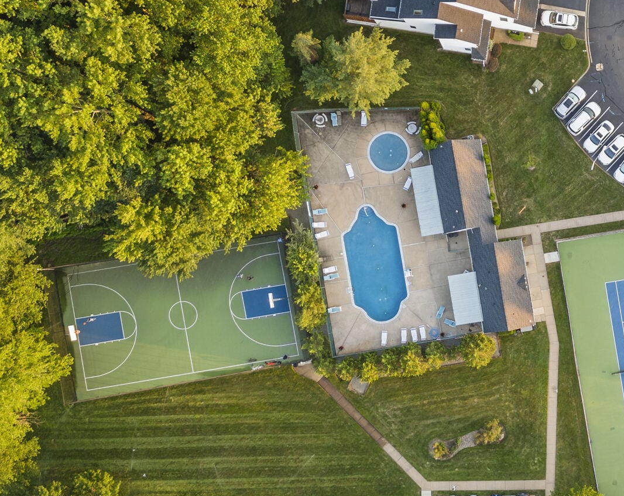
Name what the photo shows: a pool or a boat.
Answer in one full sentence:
The one in the frame is a pool.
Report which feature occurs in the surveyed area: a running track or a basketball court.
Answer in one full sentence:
Looking from above, you can make out a basketball court.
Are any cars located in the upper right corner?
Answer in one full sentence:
Yes, I can see a car in the upper right corner.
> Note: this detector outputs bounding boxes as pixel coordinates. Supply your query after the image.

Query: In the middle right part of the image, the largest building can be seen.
[428,139,536,332]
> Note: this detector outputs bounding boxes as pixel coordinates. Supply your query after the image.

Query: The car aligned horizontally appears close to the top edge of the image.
[541,11,578,29]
